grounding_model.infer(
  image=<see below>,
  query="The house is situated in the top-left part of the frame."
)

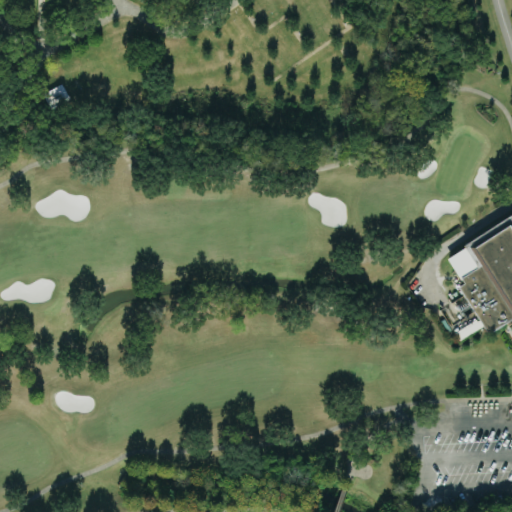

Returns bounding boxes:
[50,84,69,112]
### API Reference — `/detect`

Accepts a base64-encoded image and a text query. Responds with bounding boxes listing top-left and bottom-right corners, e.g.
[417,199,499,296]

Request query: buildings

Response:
[50,84,69,112]
[449,217,512,334]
